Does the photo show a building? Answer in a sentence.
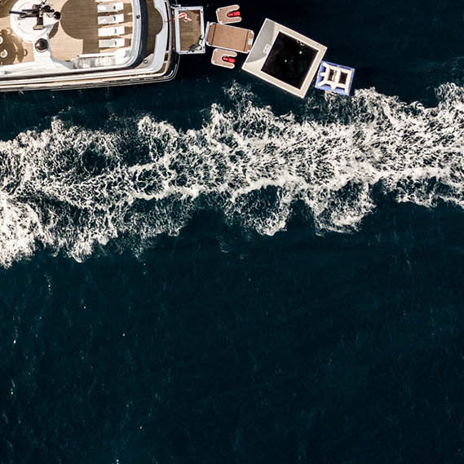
No, no building can be seen from above.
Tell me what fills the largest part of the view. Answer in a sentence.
The largest share of the image is taken up by water.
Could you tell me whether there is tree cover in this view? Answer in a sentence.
No, the picture contains no tree cover.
